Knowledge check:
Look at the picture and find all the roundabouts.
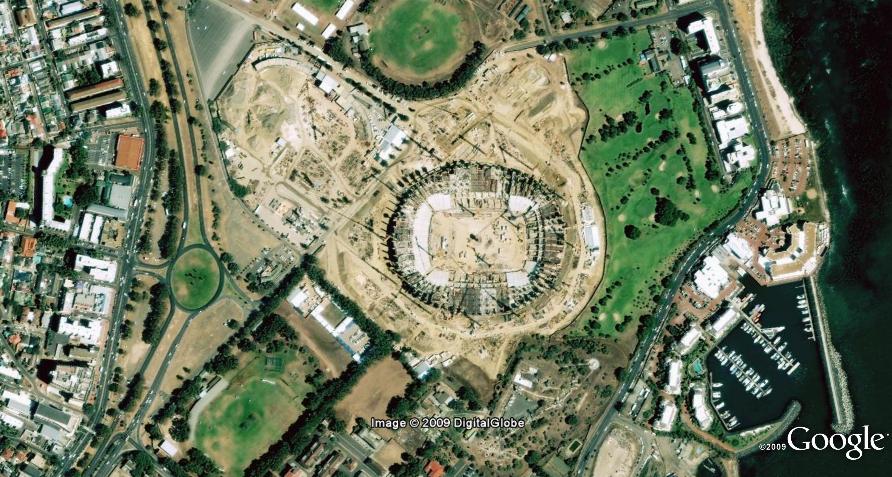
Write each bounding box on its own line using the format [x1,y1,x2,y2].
[166,243,225,312]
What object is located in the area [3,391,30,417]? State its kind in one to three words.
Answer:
building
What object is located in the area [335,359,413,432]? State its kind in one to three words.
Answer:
sports field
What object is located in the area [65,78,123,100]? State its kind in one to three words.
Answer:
building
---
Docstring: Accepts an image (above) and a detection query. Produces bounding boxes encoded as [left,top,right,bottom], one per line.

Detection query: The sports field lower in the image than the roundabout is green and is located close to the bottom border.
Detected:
[188,377,295,477]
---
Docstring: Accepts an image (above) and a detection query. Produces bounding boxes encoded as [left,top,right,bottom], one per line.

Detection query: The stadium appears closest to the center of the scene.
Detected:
[387,159,565,324]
